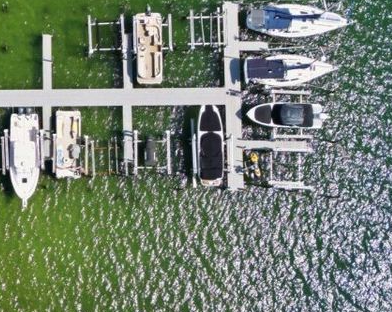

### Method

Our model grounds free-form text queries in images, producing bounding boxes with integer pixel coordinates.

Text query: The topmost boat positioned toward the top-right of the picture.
[243,0,361,38]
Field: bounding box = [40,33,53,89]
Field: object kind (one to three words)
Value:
pier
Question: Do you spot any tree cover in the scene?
No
